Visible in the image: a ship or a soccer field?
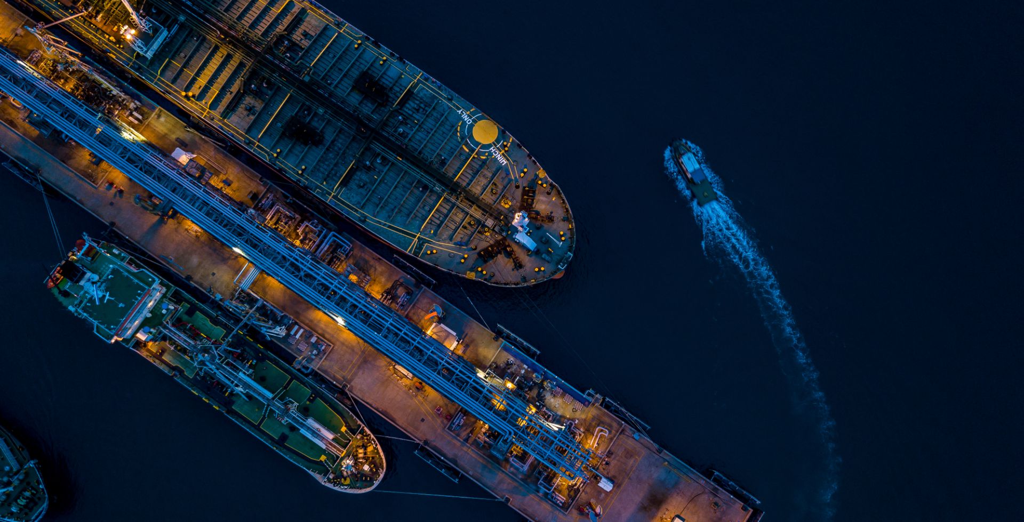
ship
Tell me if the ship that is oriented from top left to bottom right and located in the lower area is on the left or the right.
left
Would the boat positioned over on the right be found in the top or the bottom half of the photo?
top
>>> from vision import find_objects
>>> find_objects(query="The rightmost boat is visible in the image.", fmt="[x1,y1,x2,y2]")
[675,138,715,206]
